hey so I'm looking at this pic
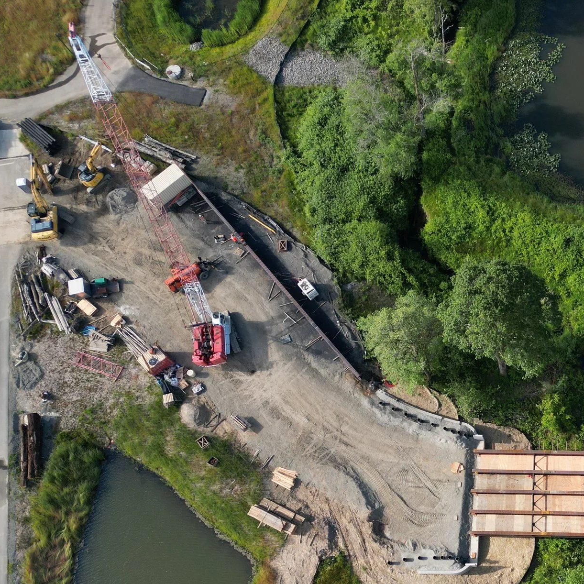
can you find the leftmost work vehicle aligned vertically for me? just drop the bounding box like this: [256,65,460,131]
[27,154,69,243]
